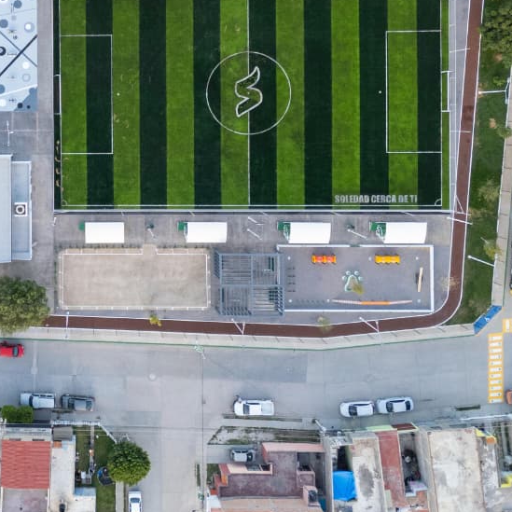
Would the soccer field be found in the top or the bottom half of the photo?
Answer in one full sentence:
The top half of the photo is where the soccer field is.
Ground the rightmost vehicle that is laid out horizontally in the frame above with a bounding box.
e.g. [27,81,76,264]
[374,397,413,414]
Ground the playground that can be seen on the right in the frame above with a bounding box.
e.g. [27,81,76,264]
[276,245,435,314]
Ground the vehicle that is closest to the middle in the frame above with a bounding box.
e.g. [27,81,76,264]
[232,399,274,416]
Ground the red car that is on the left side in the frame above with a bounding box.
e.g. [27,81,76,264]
[0,342,24,358]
